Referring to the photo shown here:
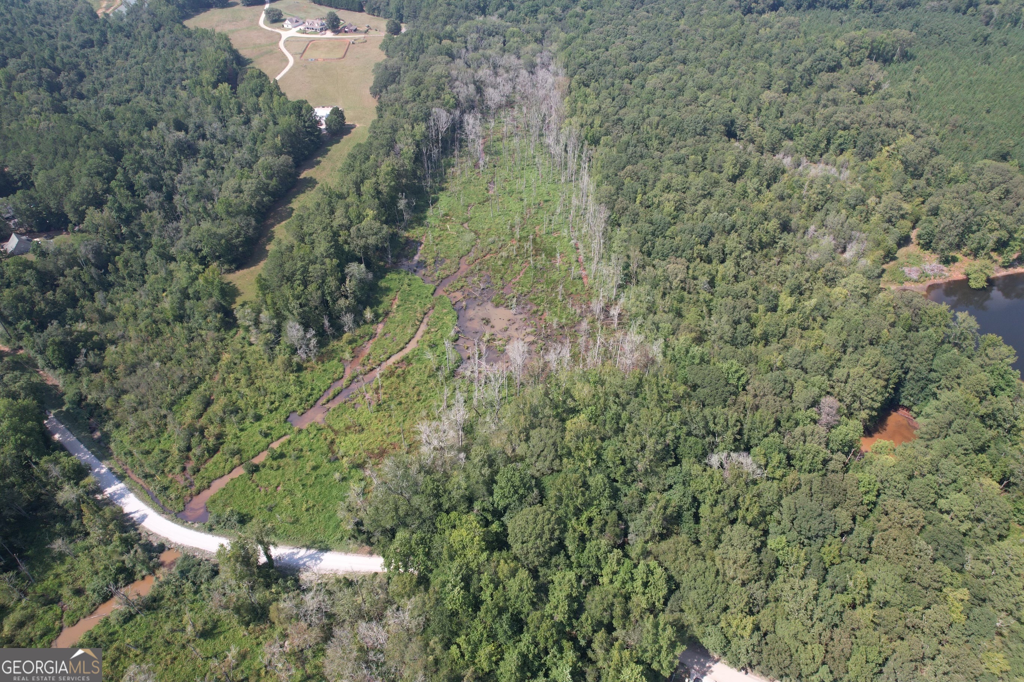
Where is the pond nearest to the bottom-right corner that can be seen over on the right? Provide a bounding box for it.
[859,410,914,462]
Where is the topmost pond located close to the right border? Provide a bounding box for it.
[924,272,1024,398]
